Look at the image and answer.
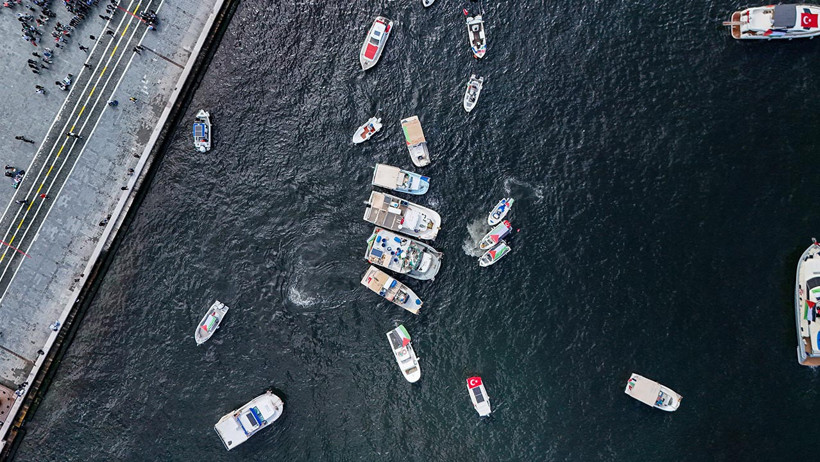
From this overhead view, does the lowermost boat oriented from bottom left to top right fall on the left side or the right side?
left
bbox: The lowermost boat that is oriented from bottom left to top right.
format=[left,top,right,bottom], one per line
[215,392,286,450]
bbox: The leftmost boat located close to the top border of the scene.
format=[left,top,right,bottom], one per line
[362,16,392,70]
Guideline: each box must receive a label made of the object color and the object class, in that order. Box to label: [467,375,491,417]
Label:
white boat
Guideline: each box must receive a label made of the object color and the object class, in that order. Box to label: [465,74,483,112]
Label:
white boat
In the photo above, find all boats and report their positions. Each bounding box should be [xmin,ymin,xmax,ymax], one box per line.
[465,74,483,112]
[215,392,286,450]
[722,3,820,42]
[621,372,681,409]
[362,16,392,70]
[353,118,381,143]
[372,164,431,192]
[196,301,229,345]
[465,16,487,58]
[467,375,491,417]
[480,241,511,266]
[401,115,427,167]
[488,197,511,225]
[790,237,820,365]
[362,191,442,239]
[480,220,512,249]
[361,265,424,313]
[194,109,212,152]
[365,226,445,281]
[386,322,420,384]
